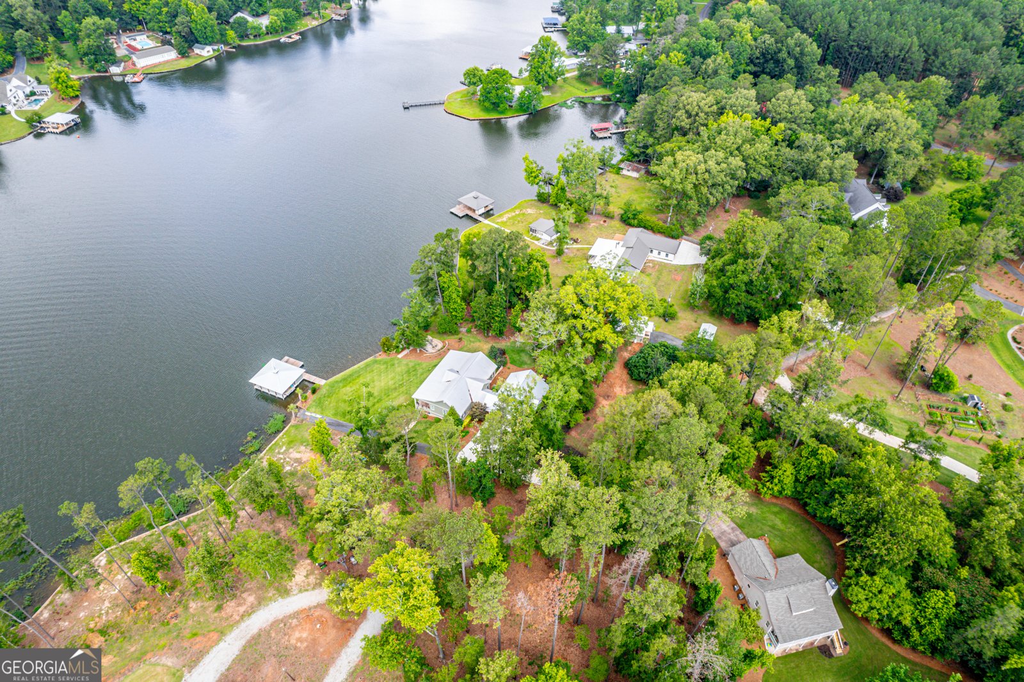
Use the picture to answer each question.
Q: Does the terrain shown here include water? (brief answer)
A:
Yes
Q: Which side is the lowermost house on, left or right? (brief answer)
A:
right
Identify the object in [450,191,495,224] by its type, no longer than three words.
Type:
building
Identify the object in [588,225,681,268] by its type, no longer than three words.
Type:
house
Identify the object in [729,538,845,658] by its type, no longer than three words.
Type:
house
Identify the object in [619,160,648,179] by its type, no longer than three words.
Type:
shed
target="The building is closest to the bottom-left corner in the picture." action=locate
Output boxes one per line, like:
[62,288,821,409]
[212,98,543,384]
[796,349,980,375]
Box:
[249,356,327,403]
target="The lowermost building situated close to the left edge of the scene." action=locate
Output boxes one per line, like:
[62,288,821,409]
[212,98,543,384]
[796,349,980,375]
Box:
[35,112,81,135]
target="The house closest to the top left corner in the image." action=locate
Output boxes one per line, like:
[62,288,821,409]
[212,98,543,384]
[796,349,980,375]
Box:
[0,72,58,109]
